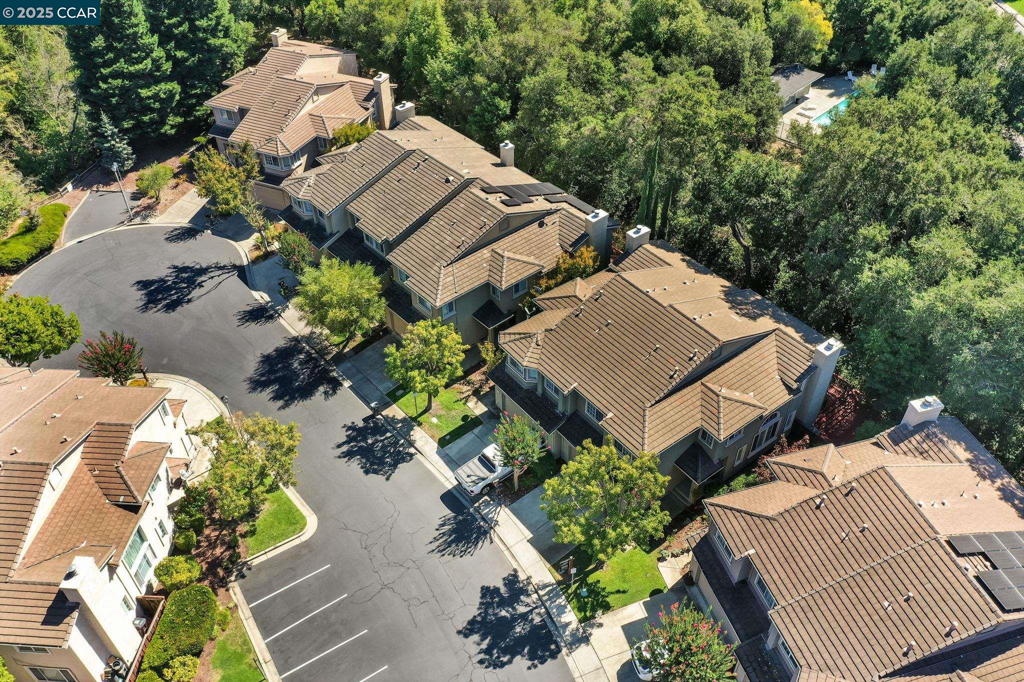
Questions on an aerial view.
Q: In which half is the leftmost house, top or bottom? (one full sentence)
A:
The bottom half of the photo is where the leftmost house is.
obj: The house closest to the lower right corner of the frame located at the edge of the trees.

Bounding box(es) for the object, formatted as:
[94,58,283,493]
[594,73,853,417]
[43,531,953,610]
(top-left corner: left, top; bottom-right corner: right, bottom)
[683,385,1024,682]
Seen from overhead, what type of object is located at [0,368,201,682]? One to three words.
house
